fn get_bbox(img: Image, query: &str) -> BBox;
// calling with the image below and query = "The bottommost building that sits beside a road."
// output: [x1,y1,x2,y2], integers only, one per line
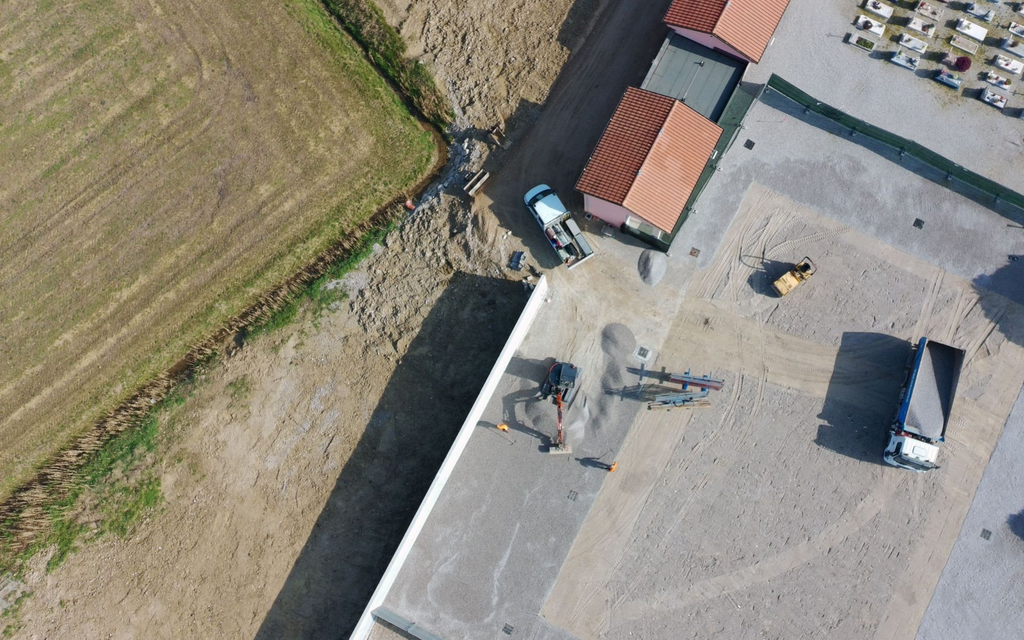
[574,85,725,251]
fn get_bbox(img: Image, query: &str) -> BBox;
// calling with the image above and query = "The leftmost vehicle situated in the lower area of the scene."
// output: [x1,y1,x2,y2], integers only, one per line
[540,359,585,452]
